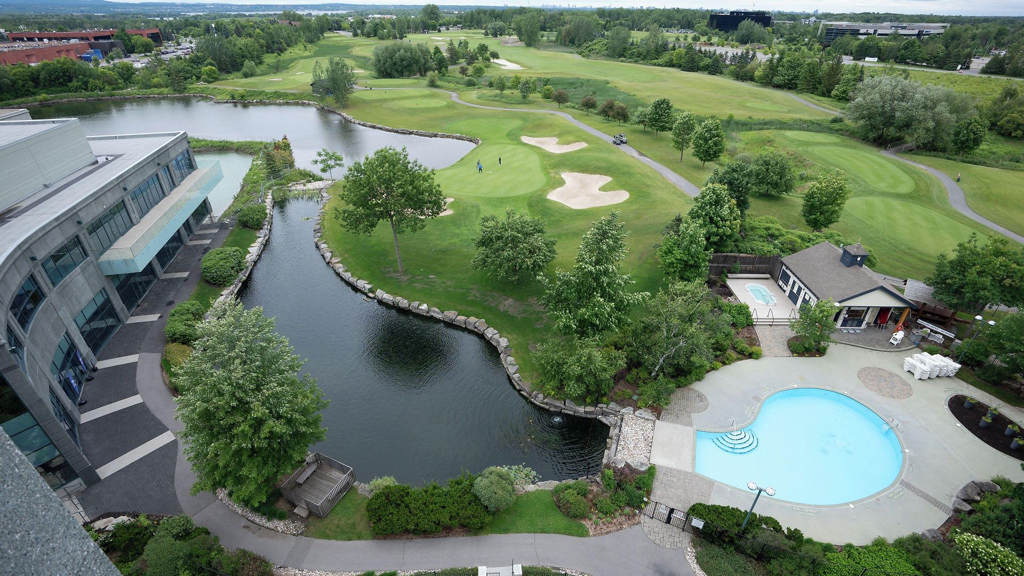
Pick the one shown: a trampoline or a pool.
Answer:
pool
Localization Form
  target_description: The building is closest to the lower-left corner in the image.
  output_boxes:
[0,108,223,502]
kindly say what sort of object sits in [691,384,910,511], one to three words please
swimming pool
